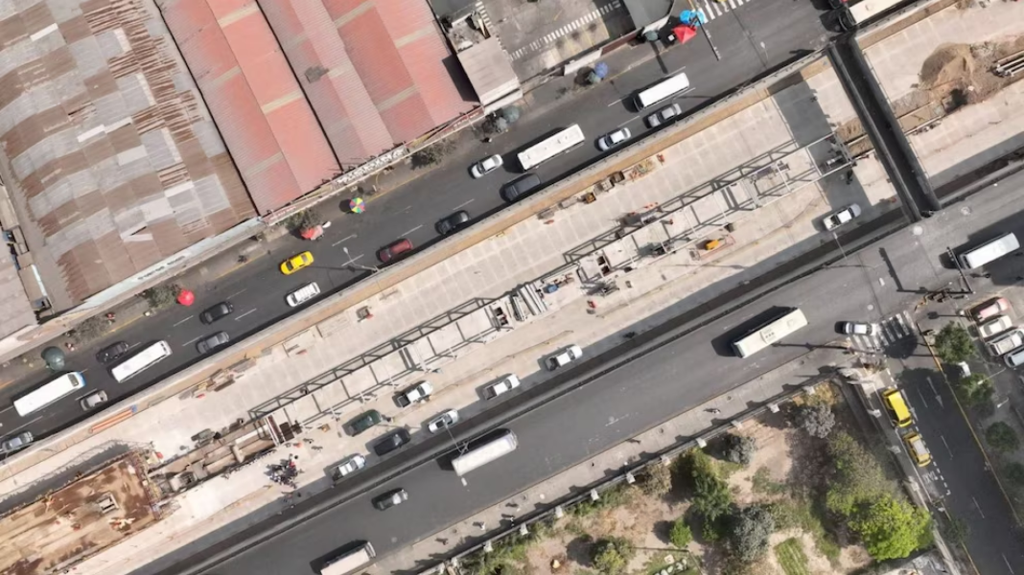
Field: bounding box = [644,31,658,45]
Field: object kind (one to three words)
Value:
umbrella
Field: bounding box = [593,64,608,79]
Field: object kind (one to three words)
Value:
umbrella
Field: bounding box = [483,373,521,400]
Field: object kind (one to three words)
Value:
truck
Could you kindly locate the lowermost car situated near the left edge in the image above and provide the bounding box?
[0,428,35,454]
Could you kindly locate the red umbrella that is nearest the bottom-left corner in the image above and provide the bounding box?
[179,288,197,306]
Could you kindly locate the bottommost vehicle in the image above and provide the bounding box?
[304,539,382,575]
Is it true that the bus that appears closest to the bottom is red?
No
